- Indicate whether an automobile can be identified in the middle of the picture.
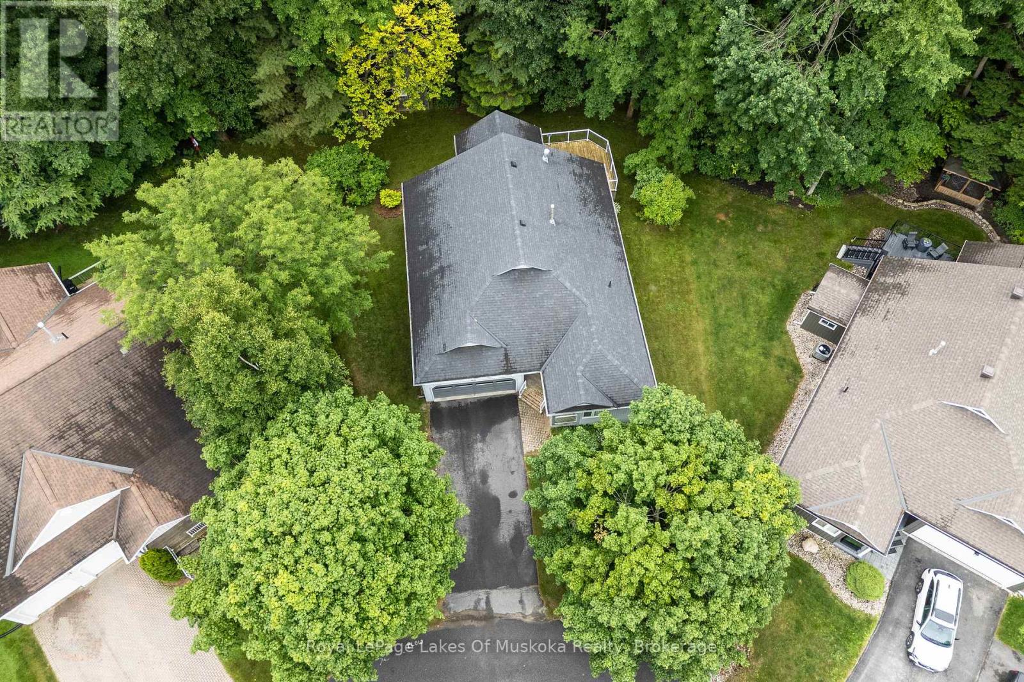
No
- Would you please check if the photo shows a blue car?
No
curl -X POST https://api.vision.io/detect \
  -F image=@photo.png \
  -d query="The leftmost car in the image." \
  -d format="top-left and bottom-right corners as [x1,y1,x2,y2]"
[901,570,964,669]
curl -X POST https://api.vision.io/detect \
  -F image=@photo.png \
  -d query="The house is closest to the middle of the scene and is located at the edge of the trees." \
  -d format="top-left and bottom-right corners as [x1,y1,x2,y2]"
[401,111,662,429]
